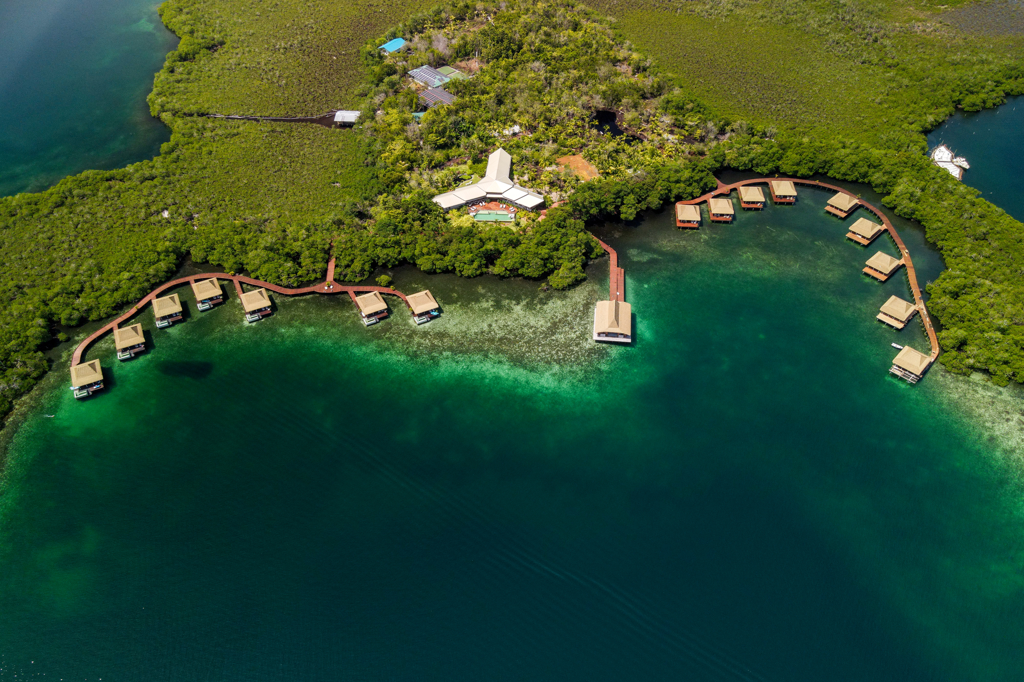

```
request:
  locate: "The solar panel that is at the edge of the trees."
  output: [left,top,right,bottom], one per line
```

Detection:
[409,65,449,86]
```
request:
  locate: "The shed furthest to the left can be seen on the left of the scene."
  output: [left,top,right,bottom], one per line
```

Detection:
[71,359,108,396]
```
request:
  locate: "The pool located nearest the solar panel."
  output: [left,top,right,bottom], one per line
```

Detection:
[475,210,516,222]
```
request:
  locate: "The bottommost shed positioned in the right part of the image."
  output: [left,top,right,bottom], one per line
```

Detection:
[884,346,932,387]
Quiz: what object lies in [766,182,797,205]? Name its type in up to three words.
shed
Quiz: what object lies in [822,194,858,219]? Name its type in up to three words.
shed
